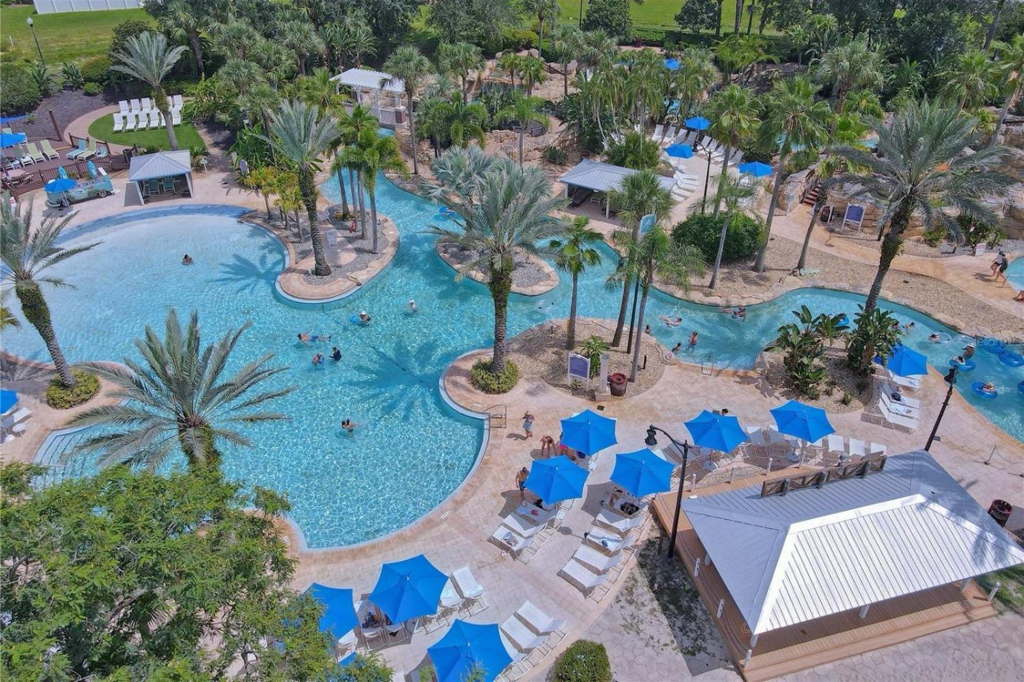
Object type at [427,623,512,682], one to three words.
umbrella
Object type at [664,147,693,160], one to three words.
umbrella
